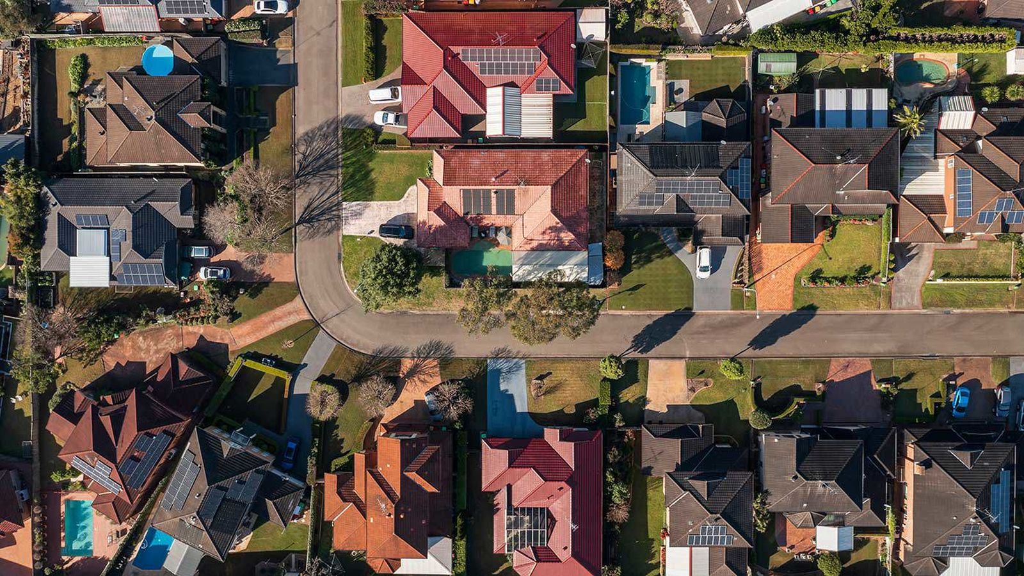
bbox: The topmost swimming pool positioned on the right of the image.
[894,54,951,87]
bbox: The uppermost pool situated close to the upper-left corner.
[142,44,173,75]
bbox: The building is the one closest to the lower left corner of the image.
[0,464,29,533]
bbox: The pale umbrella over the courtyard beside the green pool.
[496,228,512,244]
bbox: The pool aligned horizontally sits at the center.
[449,247,516,277]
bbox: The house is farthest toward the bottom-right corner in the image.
[900,424,1024,576]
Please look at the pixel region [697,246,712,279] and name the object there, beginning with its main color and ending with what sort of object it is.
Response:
white vehicle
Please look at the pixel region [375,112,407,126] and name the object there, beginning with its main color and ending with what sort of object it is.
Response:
white vehicle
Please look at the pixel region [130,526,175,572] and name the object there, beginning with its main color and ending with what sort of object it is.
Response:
blue swimming pool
